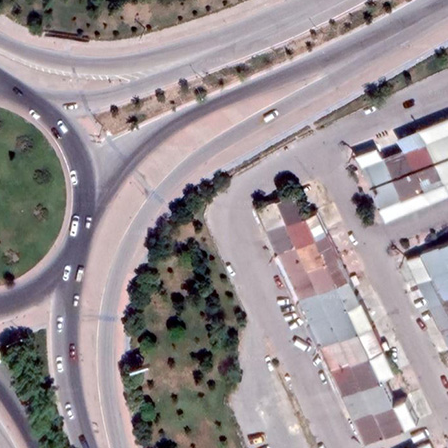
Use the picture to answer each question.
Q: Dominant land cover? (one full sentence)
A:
For the most part, this view shows paved ground.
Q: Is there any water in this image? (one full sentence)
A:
No, there's no water in this view.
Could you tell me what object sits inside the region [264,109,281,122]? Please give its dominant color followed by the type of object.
white vehicle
